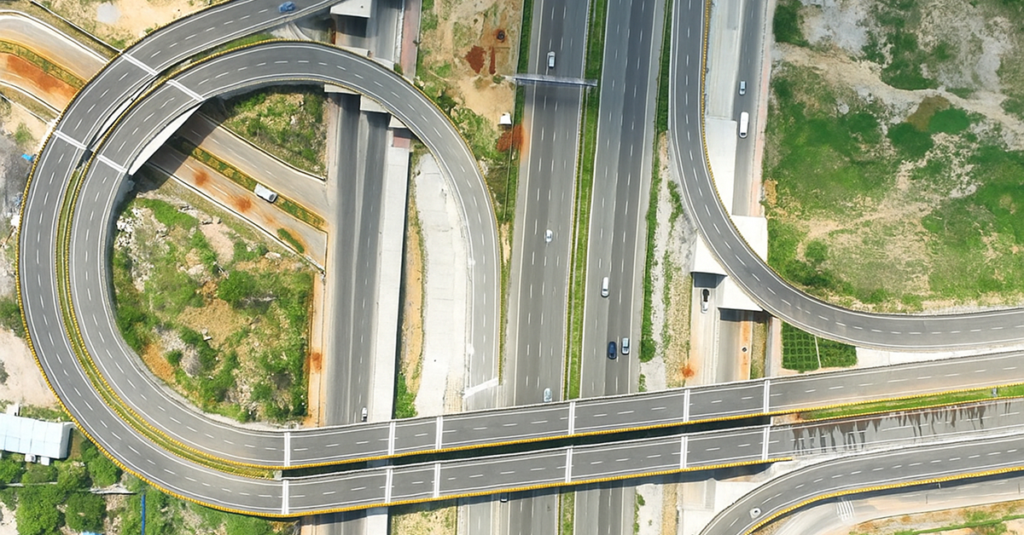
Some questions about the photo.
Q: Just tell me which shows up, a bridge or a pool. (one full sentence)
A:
There is a bridge in the scene.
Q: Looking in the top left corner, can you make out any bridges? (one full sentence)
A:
Yes, I can see a bridge in the top left corner.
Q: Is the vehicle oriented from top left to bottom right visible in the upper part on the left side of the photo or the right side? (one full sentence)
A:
It is on the left.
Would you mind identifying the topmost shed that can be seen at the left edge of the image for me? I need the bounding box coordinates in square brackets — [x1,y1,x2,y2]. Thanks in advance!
[0,411,76,459]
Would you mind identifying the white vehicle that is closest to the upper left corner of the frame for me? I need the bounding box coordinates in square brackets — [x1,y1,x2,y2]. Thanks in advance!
[252,183,279,204]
